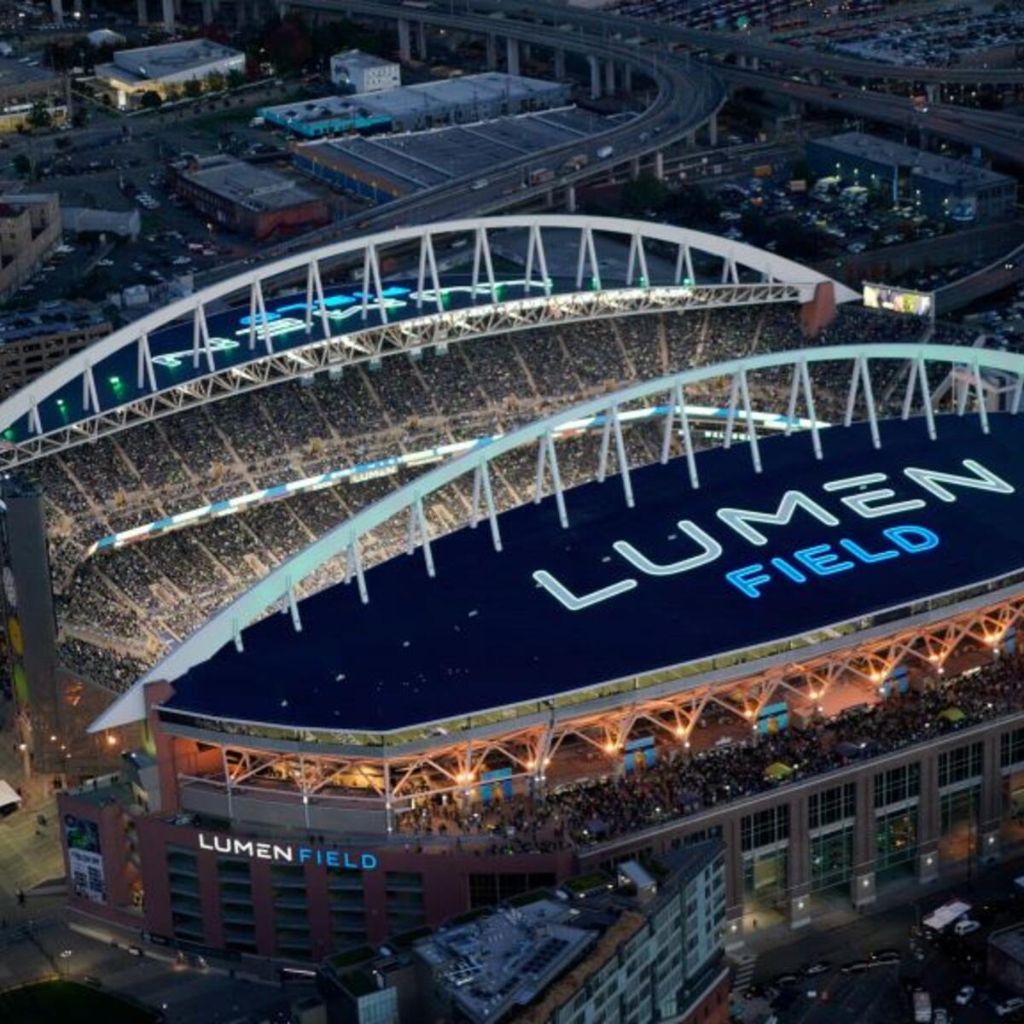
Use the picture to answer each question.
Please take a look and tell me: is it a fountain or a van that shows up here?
van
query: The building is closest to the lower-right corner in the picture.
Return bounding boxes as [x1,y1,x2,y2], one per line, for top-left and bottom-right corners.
[987,914,1024,987]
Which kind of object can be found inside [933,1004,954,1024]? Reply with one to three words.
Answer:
car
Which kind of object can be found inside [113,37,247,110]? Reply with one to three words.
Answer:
building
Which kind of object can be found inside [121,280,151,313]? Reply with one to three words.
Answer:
house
